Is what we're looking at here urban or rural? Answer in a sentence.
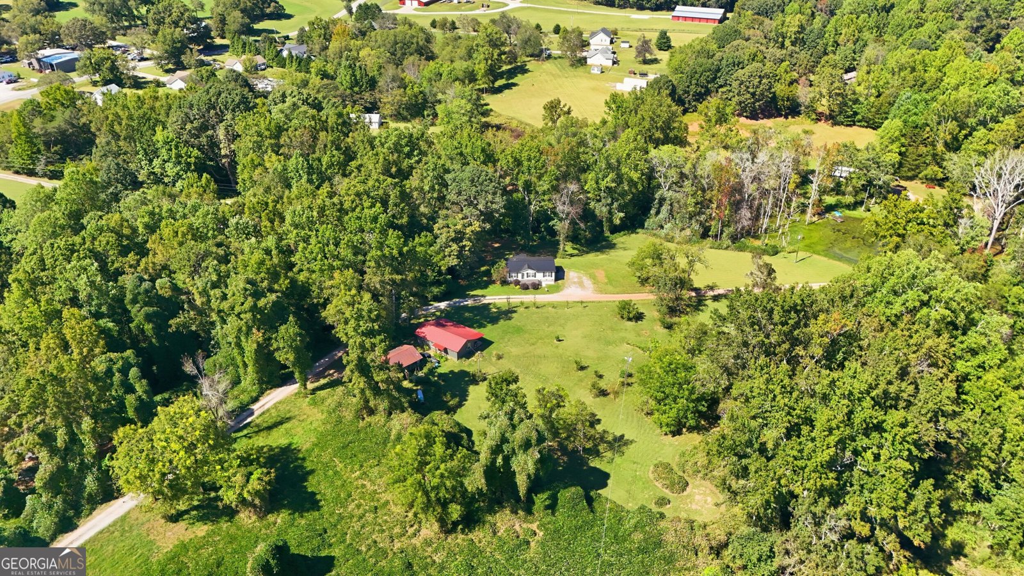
The area is rural.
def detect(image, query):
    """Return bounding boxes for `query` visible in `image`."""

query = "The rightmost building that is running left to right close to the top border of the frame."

[672,4,721,24]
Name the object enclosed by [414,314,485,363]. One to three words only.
house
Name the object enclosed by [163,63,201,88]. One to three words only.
house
